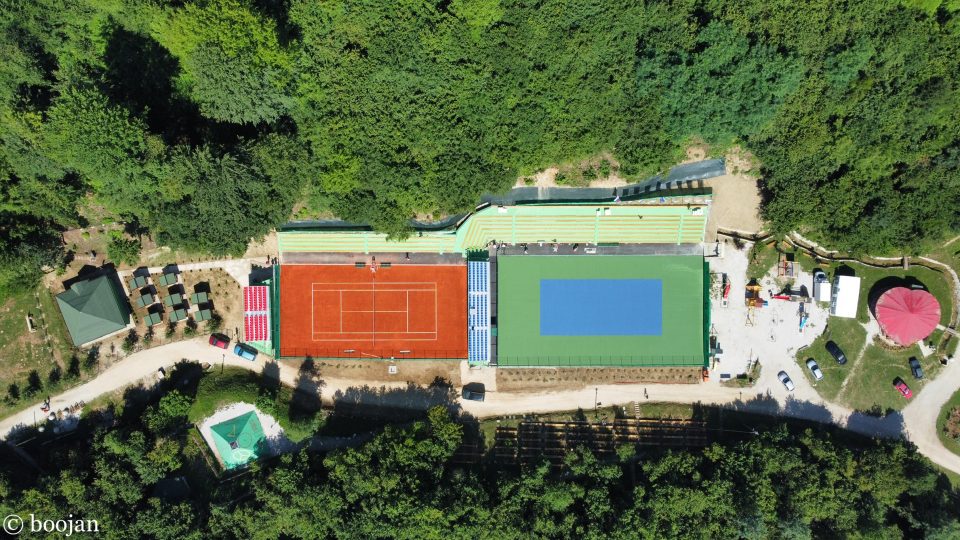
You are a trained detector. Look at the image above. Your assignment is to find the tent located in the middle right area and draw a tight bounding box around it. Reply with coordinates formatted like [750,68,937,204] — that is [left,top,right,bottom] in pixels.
[828,276,861,318]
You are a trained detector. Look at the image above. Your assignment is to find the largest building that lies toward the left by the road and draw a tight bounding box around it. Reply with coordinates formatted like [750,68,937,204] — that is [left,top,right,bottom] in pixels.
[55,274,143,347]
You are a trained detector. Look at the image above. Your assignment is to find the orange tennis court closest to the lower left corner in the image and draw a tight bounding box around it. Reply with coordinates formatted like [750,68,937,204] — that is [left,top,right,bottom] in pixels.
[280,263,468,358]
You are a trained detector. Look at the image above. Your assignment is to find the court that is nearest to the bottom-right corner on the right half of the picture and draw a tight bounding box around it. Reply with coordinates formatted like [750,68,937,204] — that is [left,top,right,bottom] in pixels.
[498,254,703,366]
